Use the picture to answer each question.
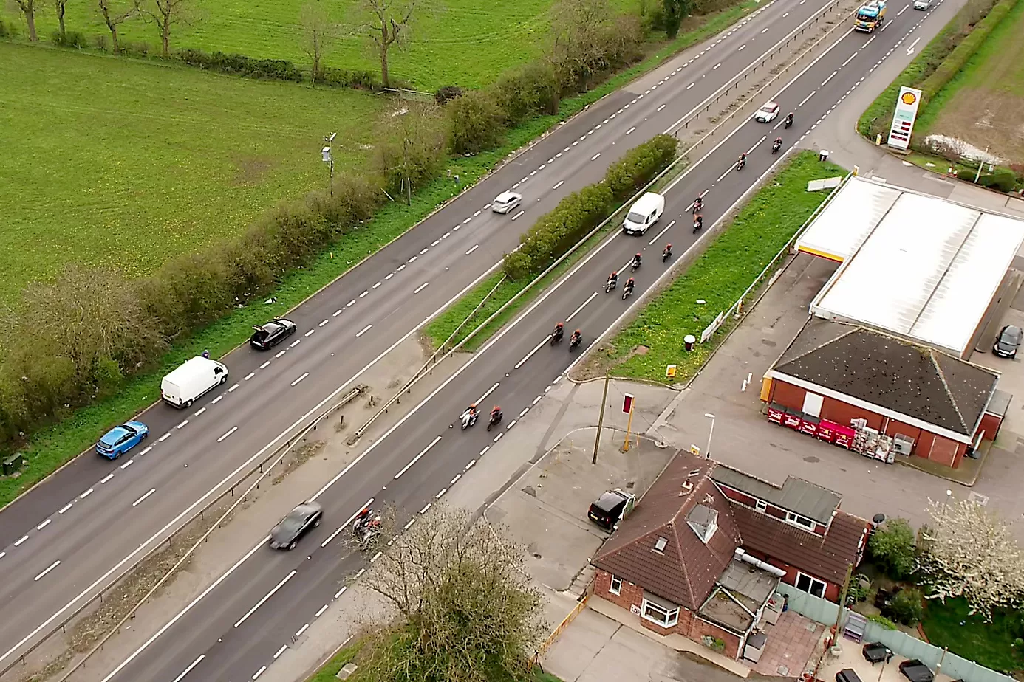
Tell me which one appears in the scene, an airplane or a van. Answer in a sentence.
I can see a van in this picture.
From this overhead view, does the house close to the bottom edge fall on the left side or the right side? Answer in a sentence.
You can find the house close to the bottom edge on the right side of the picture.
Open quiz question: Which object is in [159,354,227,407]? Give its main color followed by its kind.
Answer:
white van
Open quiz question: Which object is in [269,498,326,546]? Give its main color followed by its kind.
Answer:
gray car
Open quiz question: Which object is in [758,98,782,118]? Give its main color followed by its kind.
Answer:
white car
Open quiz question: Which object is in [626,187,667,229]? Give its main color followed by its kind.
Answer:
white van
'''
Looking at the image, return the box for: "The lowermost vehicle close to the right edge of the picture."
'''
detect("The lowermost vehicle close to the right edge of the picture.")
[992,319,1023,351]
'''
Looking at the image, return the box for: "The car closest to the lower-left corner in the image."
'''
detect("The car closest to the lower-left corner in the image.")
[92,420,149,459]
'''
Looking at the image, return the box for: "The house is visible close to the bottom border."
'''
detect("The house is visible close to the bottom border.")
[585,449,885,662]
